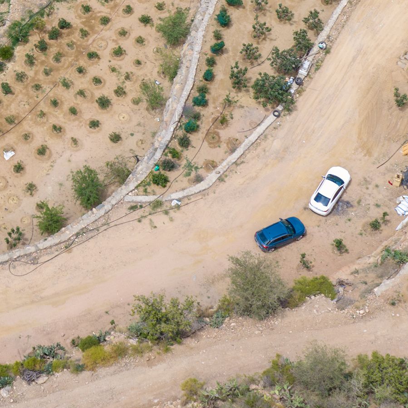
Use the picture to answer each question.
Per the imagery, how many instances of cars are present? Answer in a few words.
two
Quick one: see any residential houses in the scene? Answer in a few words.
No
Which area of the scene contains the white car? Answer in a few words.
right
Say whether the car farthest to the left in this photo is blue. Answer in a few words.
Yes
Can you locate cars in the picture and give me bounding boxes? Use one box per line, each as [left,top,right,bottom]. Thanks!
[255,216,307,251]
[312,166,351,216]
